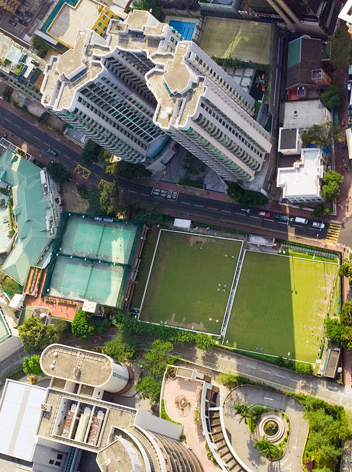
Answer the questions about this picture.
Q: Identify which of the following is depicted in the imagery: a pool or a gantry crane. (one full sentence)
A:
Looking from above, you can make out a pool.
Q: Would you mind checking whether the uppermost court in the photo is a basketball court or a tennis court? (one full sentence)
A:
It looks like the uppermost court is a tennis court.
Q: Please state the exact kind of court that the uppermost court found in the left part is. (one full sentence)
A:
I'd identify the uppermost court found in the left part as a tennis court.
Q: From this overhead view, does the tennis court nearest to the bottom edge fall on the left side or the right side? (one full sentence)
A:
You can find the tennis court nearest to the bottom edge on the left side of the picture.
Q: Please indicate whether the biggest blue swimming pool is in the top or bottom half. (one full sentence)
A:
The top half of the photo is where the biggest blue swimming pool is.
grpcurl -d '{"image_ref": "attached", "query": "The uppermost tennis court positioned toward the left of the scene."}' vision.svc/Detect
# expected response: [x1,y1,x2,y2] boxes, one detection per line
[54,213,137,266]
